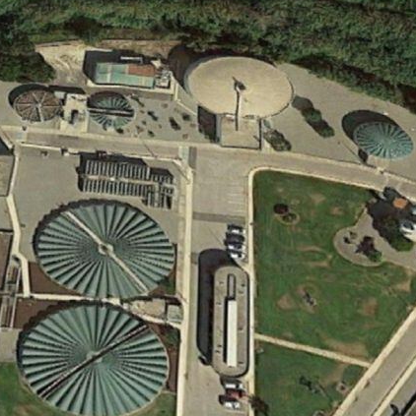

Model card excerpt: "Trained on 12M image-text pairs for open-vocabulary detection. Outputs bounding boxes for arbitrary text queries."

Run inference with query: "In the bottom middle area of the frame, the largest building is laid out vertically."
[210,264,249,385]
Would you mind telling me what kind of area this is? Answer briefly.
industrial area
